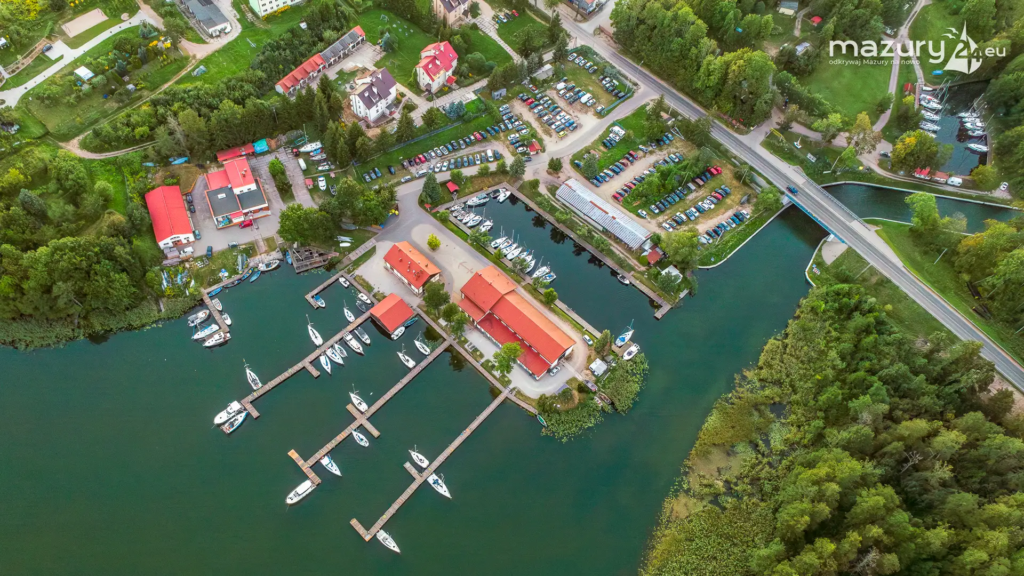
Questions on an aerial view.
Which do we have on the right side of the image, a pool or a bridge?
bridge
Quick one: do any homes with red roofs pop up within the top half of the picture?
Yes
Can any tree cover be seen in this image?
Yes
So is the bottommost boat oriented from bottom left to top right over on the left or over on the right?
left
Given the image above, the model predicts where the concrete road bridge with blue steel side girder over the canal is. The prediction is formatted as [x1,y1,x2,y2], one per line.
[780,166,872,243]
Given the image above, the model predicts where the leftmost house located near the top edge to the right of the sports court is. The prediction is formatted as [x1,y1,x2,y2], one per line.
[184,0,231,37]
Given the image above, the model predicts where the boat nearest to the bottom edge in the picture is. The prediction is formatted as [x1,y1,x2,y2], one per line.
[374,529,401,554]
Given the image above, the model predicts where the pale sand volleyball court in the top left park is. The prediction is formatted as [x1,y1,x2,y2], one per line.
[62,7,108,37]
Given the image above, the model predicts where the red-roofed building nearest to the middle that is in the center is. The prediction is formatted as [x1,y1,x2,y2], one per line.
[457,266,575,380]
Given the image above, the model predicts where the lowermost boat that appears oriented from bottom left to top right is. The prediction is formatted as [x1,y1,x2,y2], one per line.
[285,477,315,503]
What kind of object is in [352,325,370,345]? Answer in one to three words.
boat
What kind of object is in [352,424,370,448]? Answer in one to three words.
boat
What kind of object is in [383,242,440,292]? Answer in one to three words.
building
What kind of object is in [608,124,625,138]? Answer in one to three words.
camper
